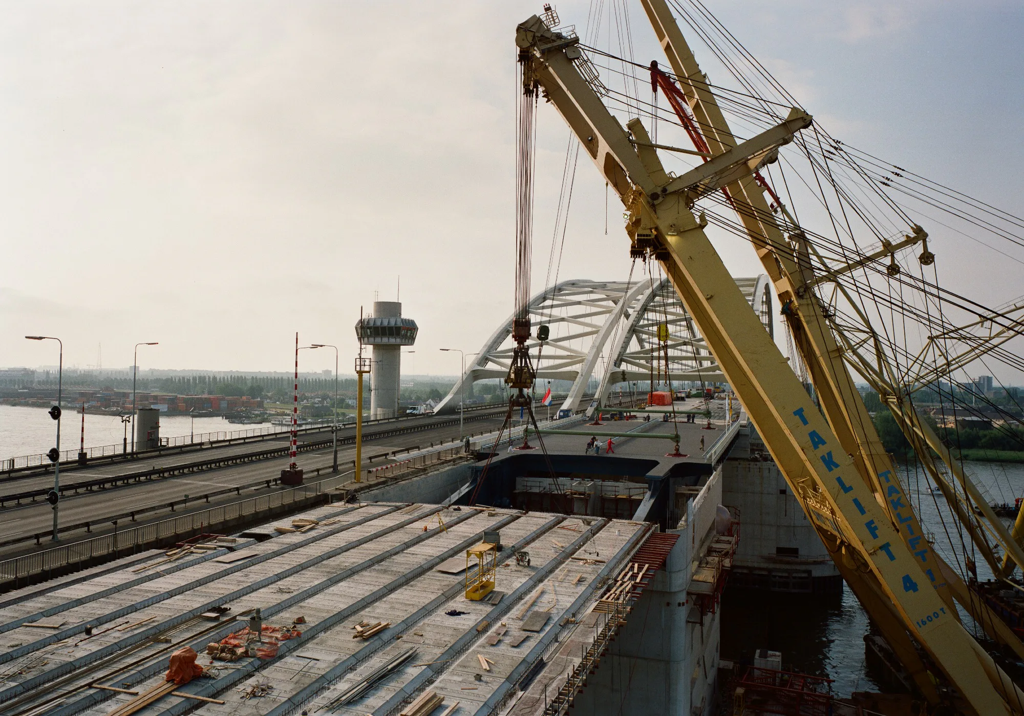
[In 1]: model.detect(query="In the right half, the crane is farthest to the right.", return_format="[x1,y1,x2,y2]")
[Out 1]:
[780,206,1024,579]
